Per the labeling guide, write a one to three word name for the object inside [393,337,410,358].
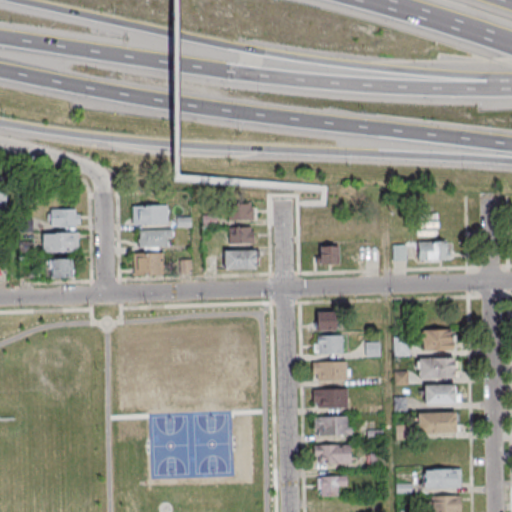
building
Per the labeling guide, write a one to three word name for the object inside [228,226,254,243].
house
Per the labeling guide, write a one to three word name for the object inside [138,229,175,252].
house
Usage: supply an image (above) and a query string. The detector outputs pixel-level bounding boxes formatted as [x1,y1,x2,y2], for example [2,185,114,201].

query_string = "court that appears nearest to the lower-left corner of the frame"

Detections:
[150,412,193,478]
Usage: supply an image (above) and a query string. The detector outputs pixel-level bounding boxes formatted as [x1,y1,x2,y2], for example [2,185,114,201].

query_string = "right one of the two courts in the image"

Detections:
[190,412,234,477]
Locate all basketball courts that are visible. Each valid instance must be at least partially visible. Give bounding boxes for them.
[150,412,193,478]
[190,412,234,477]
